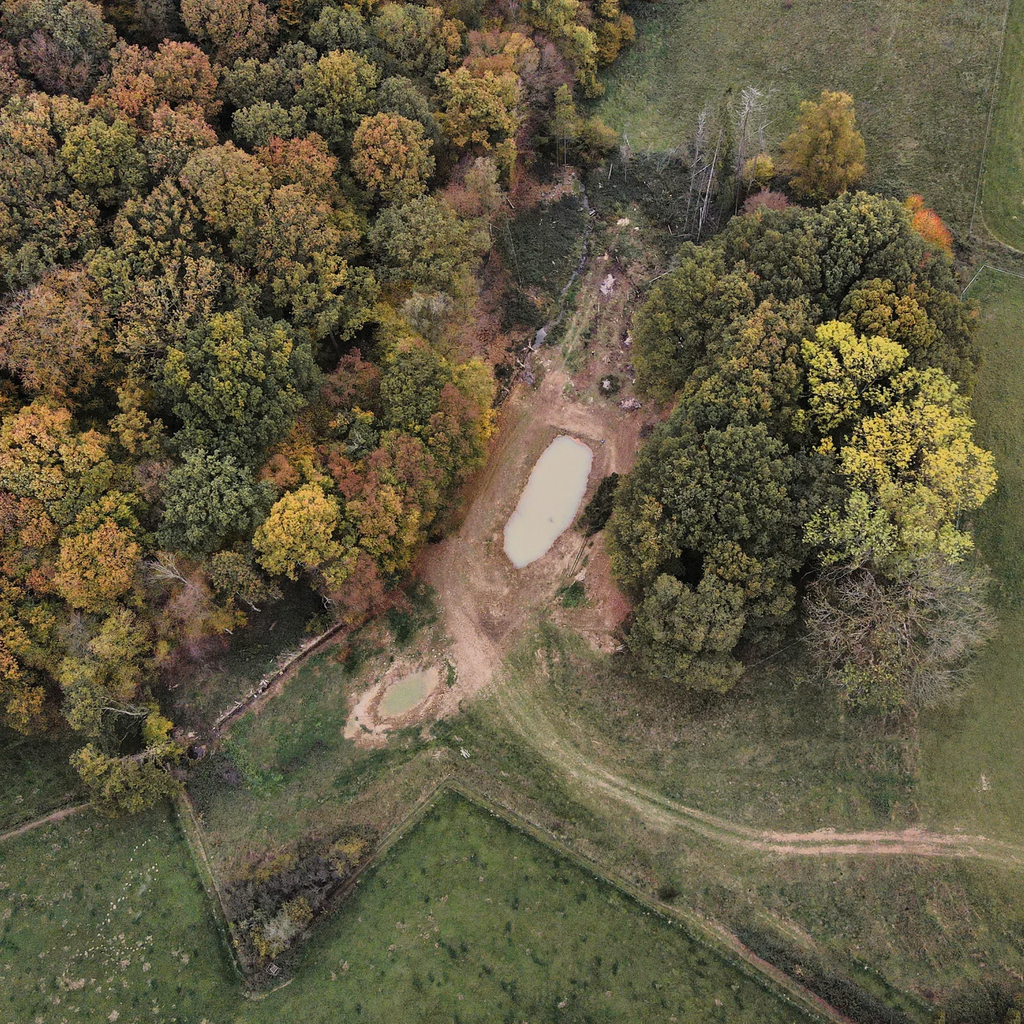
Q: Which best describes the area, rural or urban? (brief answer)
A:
rural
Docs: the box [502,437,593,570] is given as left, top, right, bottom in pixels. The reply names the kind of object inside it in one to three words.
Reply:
pond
